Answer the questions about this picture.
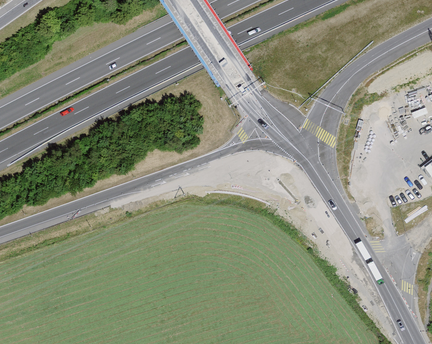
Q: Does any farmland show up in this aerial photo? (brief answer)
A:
Yes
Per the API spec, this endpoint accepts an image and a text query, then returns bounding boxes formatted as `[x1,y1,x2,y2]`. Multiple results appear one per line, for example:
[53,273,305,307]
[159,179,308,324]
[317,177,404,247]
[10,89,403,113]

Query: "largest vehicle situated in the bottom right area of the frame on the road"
[356,241,386,284]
